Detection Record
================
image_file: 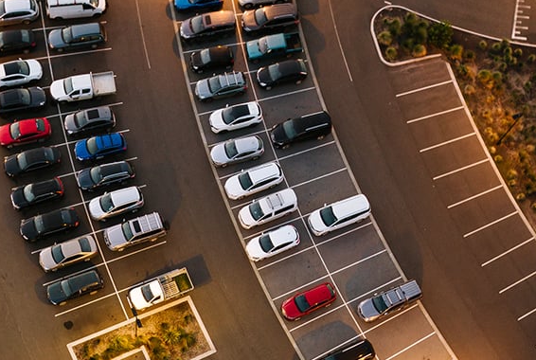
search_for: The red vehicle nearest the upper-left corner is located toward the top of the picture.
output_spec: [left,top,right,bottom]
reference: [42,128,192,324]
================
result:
[0,116,53,148]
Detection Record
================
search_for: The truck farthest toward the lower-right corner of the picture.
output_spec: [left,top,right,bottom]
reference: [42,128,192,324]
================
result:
[354,278,426,323]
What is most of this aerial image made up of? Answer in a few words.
paved ground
